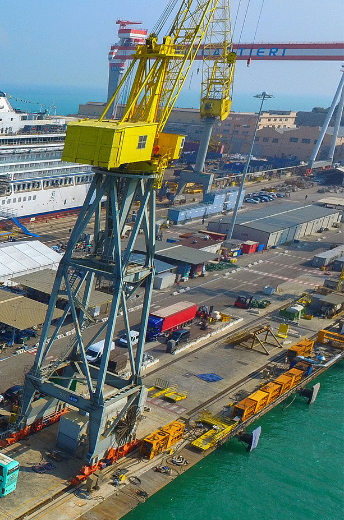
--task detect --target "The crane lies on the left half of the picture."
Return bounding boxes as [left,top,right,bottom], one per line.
[0,0,259,483]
